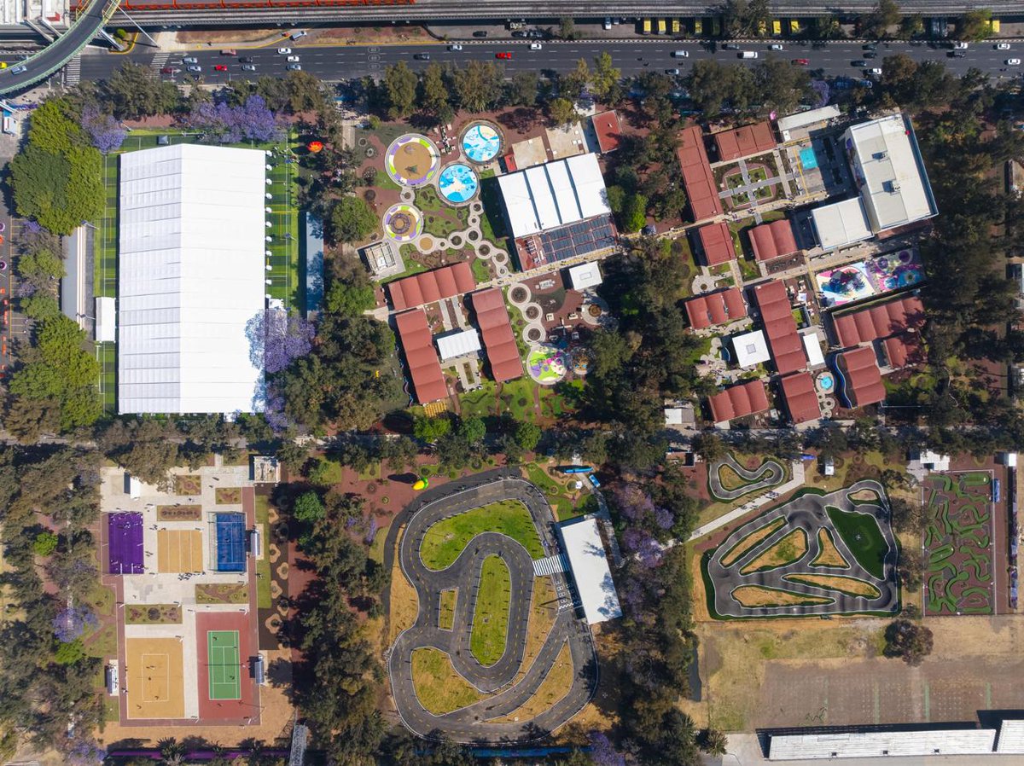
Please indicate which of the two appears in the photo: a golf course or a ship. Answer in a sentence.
Of the two, only a golf course appears.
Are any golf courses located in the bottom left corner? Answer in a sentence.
No, the scene shows no golf course in the bottom left corner.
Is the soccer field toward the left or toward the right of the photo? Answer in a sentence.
You can find the soccer field on the left side of the picture.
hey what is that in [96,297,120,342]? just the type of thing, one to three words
tent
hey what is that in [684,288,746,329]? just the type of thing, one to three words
building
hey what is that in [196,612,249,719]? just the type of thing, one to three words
tennis court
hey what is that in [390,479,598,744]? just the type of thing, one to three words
race track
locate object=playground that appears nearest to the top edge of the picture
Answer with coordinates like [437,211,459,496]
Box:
[385,133,440,188]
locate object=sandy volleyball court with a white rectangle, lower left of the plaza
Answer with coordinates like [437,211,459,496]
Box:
[126,637,185,719]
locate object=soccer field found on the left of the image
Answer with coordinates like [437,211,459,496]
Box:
[94,128,300,420]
